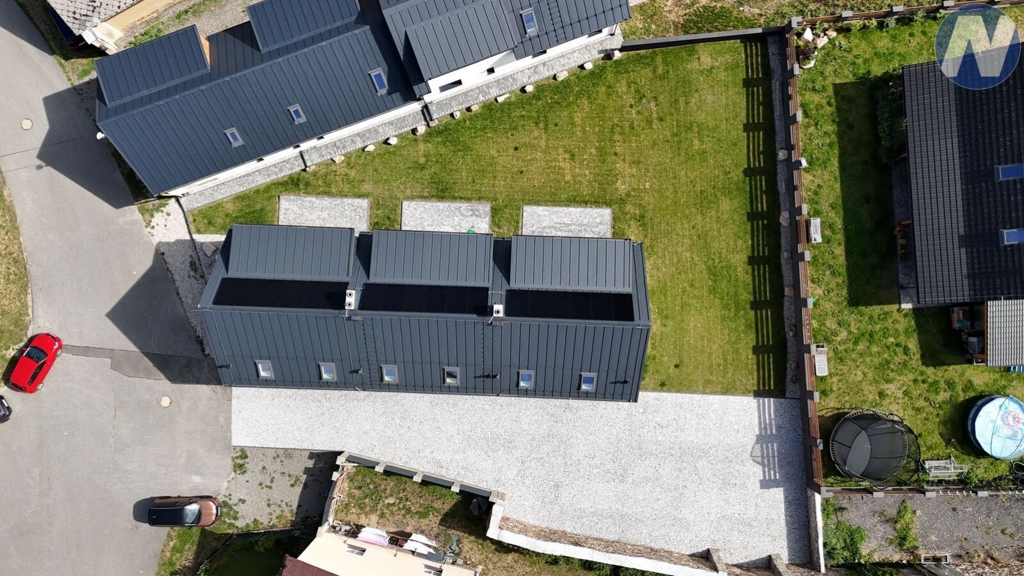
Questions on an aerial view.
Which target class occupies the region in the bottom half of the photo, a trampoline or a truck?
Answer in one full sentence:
The feature located in the bottom half of the photo is a trampoline.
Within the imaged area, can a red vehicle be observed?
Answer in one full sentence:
Yes, there's a red vehicle down there.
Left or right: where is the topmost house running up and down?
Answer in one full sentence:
You can find the topmost house running up and down on the right side of the picture.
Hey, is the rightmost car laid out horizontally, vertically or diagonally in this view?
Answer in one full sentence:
The rightmost car is oriented horizontally.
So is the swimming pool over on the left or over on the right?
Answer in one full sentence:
You can find the swimming pool on the right side of the picture.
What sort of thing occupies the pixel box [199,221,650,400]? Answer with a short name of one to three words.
house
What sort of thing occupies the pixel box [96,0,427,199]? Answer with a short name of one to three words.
house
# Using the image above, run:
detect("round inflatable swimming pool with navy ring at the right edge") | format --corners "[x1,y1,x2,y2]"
[959,392,1024,460]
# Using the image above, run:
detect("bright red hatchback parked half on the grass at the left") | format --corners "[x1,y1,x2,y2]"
[9,331,67,397]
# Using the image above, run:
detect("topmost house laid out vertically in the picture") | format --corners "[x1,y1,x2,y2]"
[899,43,1024,304]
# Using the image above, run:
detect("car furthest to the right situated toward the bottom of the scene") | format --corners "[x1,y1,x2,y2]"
[146,496,219,533]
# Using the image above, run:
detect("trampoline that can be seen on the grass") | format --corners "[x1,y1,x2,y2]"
[825,405,921,493]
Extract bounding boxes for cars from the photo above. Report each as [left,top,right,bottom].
[42,0,94,56]
[9,331,67,397]
[146,496,219,533]
[0,398,12,427]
